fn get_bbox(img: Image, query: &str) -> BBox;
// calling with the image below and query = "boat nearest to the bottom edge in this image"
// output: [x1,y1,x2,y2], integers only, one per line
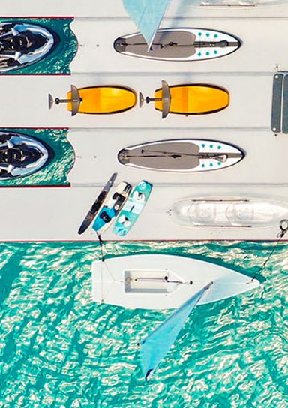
[91,254,261,379]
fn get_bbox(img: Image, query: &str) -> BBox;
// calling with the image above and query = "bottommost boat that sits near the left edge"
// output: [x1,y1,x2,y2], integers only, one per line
[0,136,55,183]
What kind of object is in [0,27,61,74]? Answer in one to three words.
boat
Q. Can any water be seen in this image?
Yes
